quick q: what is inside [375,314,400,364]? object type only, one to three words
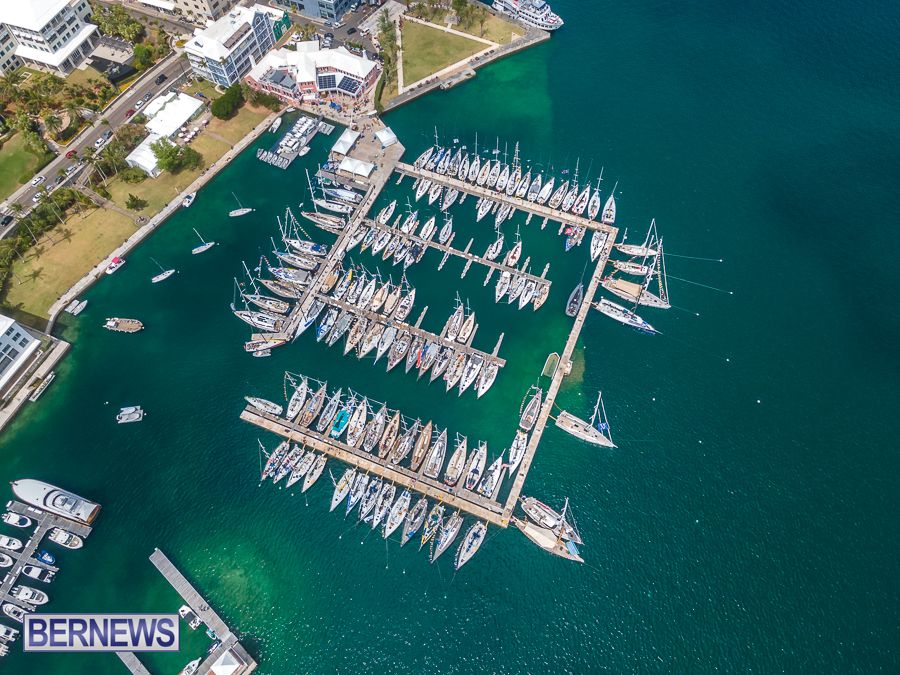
boat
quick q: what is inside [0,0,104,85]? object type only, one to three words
building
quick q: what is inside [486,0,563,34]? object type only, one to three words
ship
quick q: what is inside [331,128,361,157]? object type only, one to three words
tent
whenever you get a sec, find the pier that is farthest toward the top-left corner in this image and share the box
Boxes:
[254,115,335,169]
